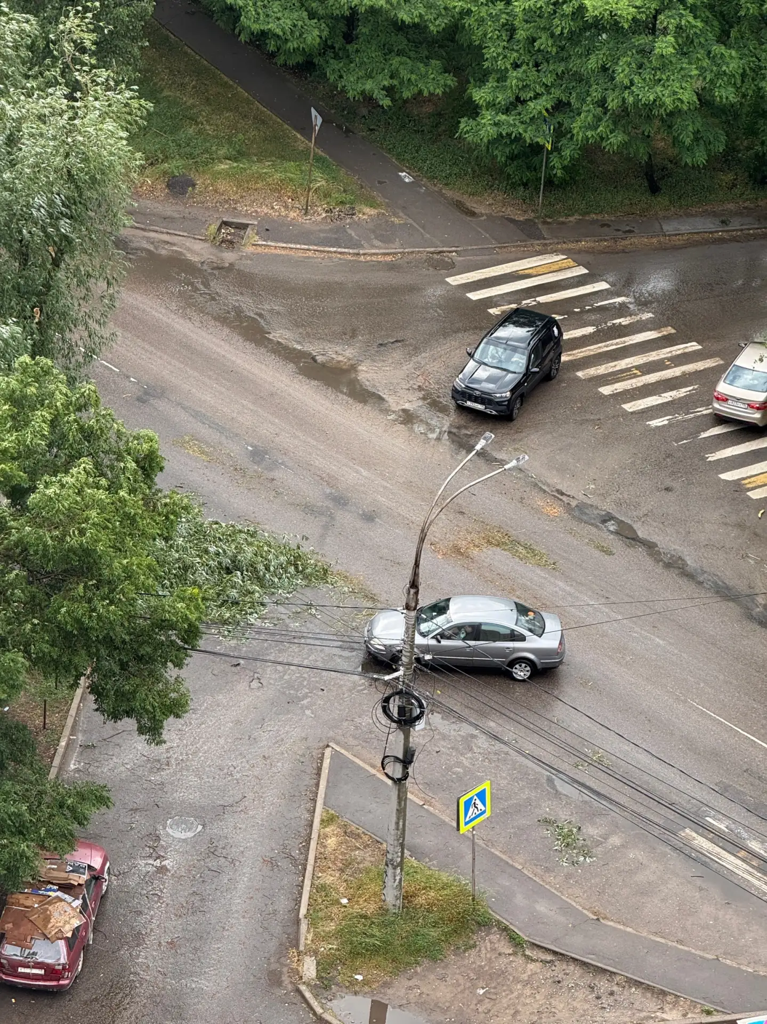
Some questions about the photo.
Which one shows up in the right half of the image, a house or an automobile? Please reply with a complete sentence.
Visible in the right half of the image is an automobile.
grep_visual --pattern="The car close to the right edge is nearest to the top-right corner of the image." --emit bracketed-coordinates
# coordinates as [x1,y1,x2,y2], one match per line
[709,331,767,427]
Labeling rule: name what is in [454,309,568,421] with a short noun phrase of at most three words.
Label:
car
